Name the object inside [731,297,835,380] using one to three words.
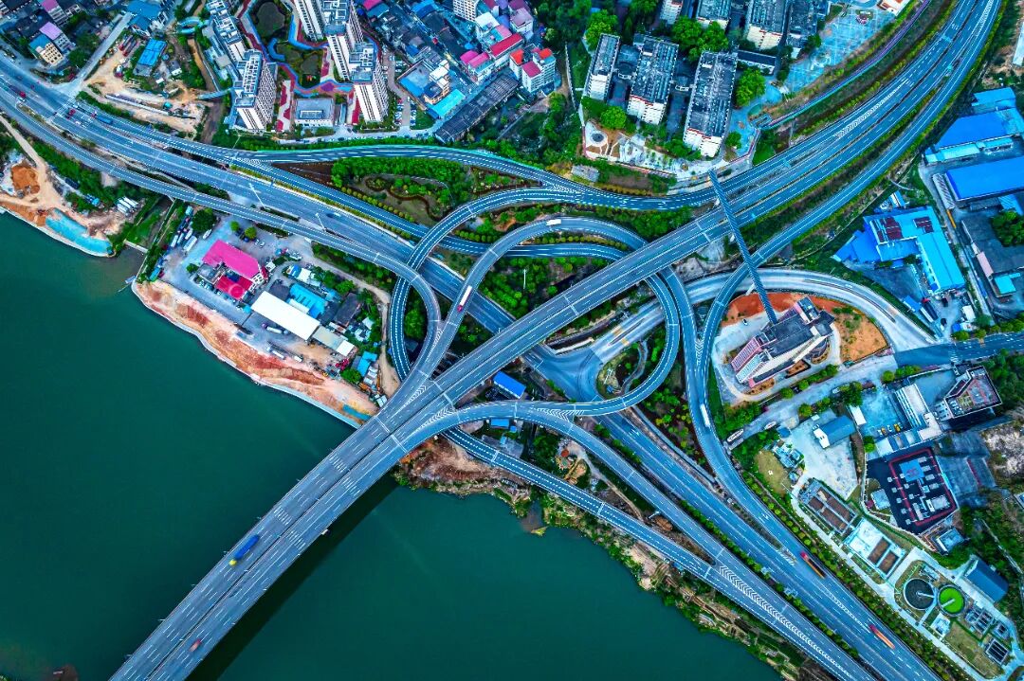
building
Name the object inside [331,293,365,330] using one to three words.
house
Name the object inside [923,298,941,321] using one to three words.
vehicle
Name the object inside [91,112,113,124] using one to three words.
vehicle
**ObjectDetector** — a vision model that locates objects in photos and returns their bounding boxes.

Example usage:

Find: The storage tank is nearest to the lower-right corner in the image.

[939,586,968,614]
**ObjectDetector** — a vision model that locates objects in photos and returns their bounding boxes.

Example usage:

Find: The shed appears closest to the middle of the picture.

[493,371,527,399]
